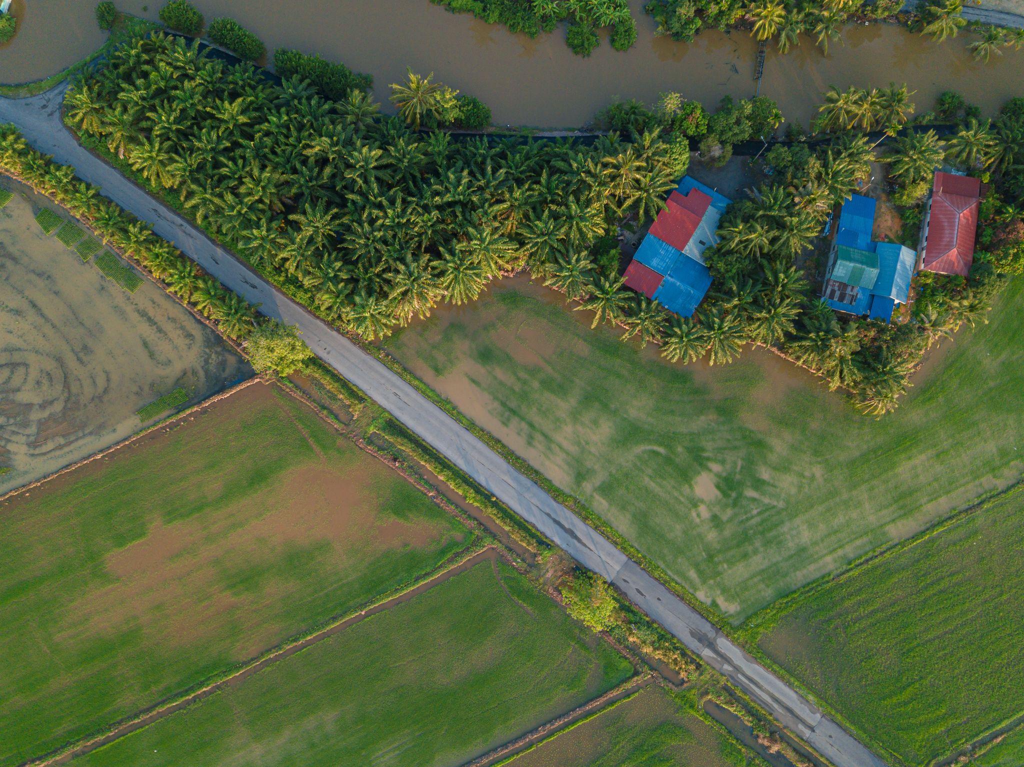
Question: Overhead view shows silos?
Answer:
No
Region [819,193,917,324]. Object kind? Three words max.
house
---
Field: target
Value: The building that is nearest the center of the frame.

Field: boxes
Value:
[622,173,726,317]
